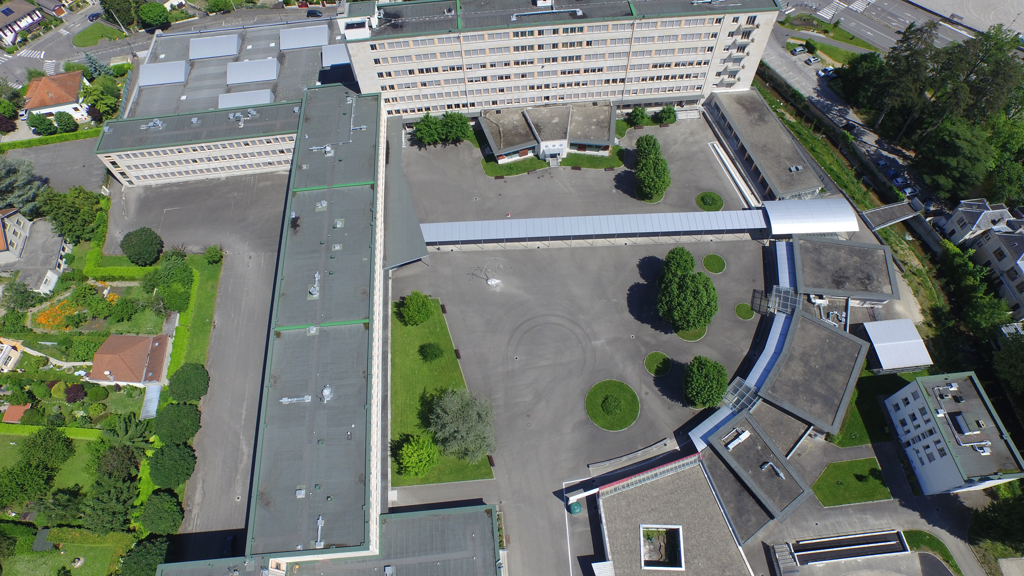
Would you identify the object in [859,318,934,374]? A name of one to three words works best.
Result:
shed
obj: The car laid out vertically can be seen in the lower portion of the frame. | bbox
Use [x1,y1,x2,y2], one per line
[221,532,236,560]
